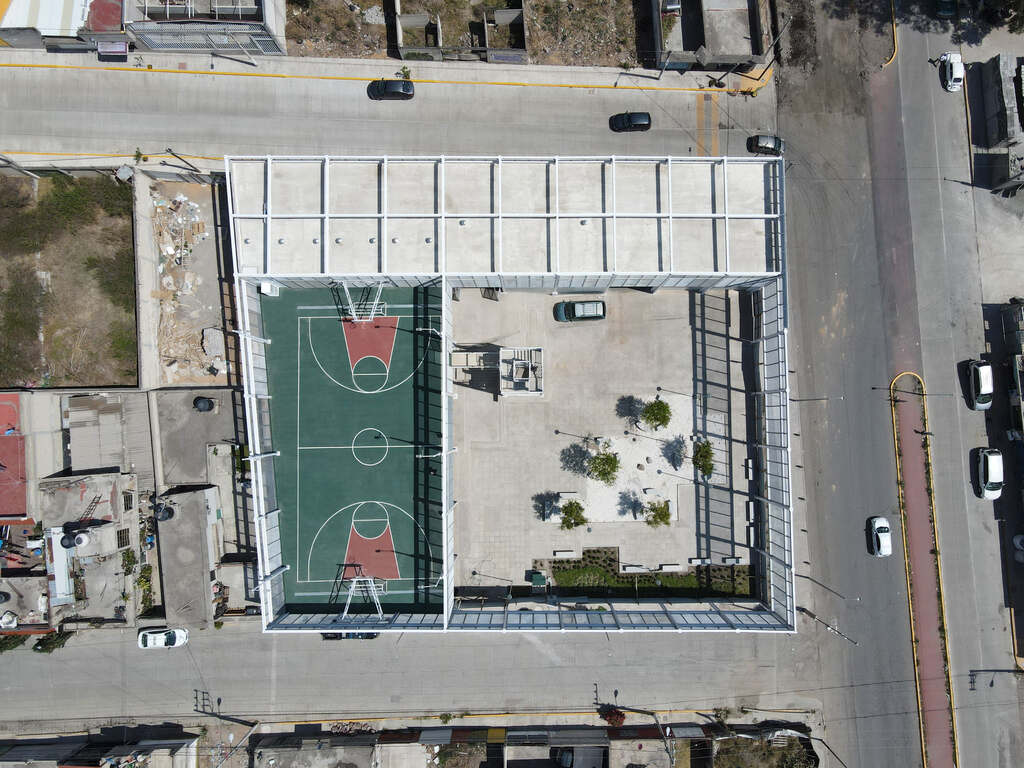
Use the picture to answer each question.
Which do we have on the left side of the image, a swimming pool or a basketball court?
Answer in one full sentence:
The one visible on the left side of the image is a basketball court.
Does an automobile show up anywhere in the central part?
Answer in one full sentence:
Yes, an automobile shows up in the central part.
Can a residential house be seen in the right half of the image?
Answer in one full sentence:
Yes, the scene does show a residential house in the right half of the image.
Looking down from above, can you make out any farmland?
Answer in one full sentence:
No, the scene doesn't show any farmland.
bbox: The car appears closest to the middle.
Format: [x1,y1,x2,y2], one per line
[555,300,606,323]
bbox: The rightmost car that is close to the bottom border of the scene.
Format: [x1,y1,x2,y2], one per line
[555,745,578,768]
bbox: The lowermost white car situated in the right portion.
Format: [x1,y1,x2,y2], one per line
[867,516,893,558]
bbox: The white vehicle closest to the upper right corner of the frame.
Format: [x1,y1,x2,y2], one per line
[938,53,965,94]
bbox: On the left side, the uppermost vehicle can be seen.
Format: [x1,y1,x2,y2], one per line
[369,78,415,102]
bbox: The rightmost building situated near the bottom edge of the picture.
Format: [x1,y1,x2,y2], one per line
[605,721,667,768]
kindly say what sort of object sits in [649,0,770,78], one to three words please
house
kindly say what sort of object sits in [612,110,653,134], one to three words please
car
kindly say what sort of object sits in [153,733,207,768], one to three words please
house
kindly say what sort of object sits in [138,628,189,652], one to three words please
car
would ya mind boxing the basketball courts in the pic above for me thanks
[258,288,456,612]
